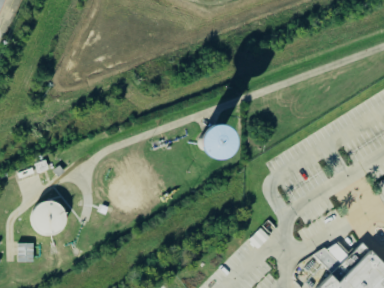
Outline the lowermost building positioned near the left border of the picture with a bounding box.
[18,244,34,262]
